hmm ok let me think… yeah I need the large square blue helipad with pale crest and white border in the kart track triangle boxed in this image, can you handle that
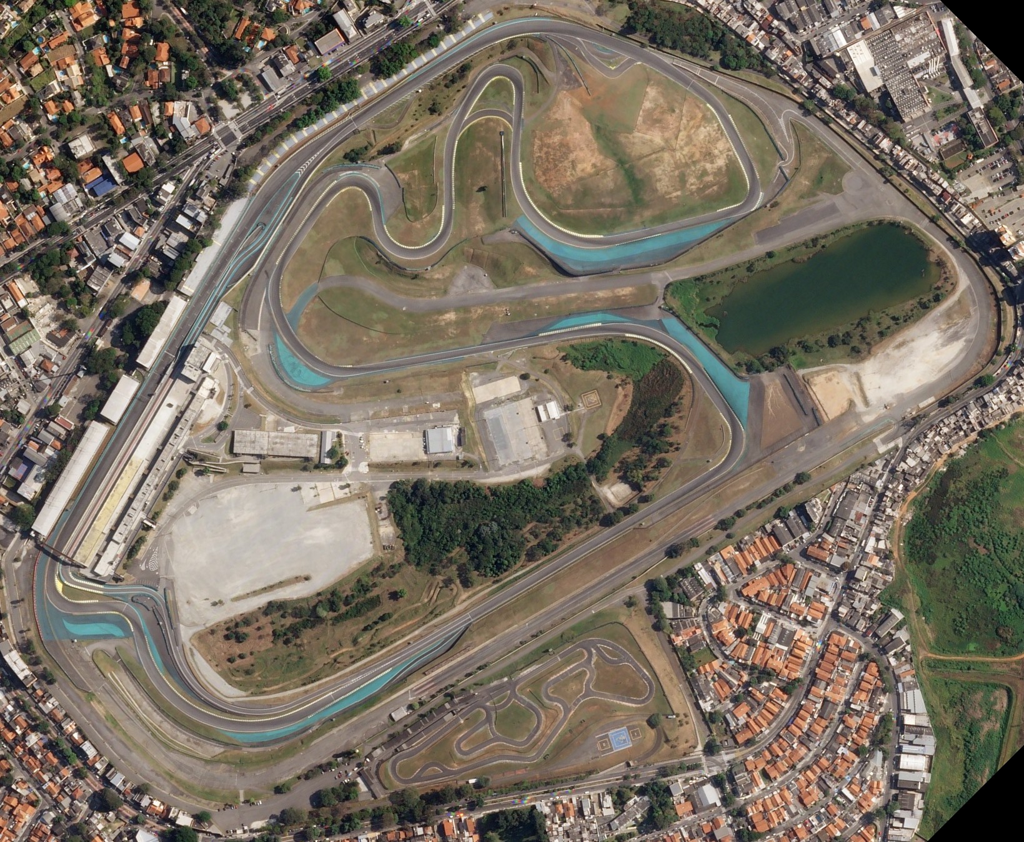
[595,727,632,756]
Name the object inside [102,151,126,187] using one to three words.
house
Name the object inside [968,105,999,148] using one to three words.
house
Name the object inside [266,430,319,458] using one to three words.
building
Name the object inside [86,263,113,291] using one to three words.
shed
